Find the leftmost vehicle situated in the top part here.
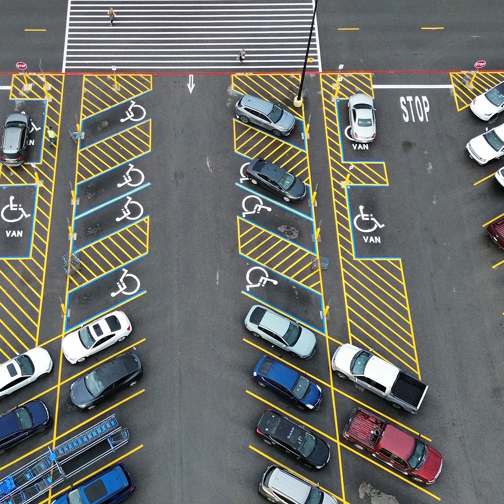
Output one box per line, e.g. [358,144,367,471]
[0,112,33,169]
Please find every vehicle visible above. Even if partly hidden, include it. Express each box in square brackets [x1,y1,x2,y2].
[241,303,314,359]
[50,462,136,504]
[0,112,33,169]
[241,155,309,204]
[68,351,147,413]
[327,342,432,418]
[0,348,55,402]
[248,353,324,413]
[258,463,342,504]
[345,91,379,144]
[0,398,57,457]
[231,94,295,138]
[249,407,336,472]
[482,215,504,254]
[472,82,504,120]
[336,404,448,487]
[59,309,134,366]
[464,124,504,170]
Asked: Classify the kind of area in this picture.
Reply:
parking lot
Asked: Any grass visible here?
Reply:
No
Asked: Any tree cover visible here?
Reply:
No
